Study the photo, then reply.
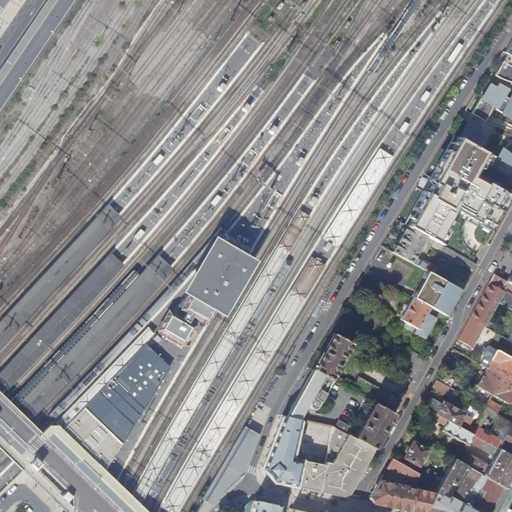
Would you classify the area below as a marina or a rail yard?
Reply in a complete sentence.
This looks like a rail yard.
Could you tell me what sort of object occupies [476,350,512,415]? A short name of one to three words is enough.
house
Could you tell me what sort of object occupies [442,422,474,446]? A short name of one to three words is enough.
house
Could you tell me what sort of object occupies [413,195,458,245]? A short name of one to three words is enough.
building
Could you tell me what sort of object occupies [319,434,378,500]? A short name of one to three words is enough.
building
